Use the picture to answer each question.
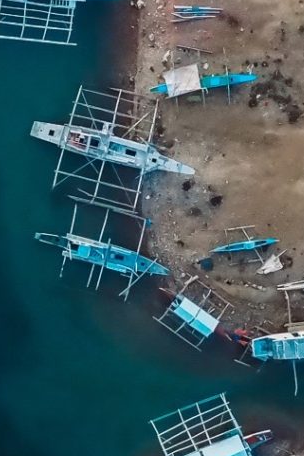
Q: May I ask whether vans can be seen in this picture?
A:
No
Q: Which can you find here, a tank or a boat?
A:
boat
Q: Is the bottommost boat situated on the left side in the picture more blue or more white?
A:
blue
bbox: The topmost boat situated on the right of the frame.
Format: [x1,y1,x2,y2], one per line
[171,6,223,22]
